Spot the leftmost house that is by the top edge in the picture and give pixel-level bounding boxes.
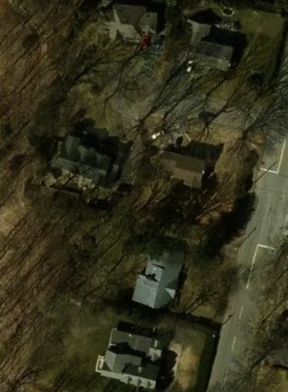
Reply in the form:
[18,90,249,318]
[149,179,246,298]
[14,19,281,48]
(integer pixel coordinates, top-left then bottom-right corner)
[105,2,159,39]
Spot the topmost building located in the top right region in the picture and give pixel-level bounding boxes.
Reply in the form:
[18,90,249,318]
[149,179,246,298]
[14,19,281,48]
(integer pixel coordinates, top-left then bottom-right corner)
[188,16,236,62]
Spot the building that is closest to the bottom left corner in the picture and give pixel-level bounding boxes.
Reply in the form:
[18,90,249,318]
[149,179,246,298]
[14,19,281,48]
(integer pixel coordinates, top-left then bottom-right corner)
[96,330,164,390]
